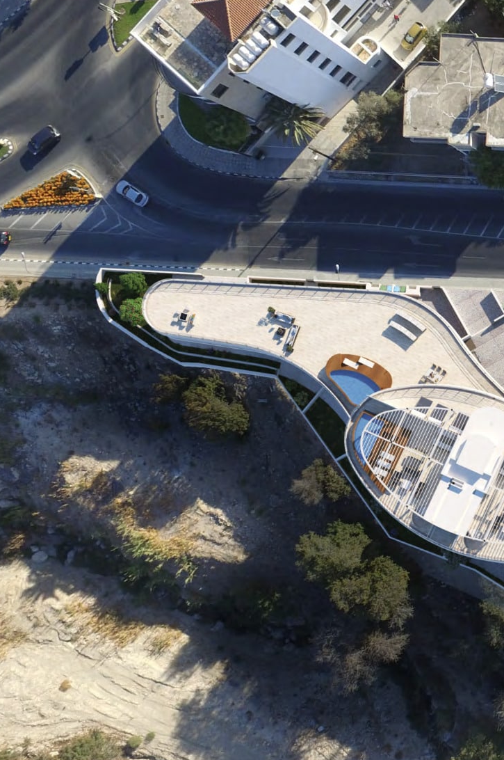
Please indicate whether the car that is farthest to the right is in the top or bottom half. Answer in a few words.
top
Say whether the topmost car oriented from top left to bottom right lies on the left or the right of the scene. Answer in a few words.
left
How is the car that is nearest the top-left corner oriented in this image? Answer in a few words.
on a diagonal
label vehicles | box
[115,179,149,208]
[28,125,61,154]
[403,20,426,52]
[0,232,10,244]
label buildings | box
[404,34,504,155]
[129,0,417,132]
[142,278,504,564]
